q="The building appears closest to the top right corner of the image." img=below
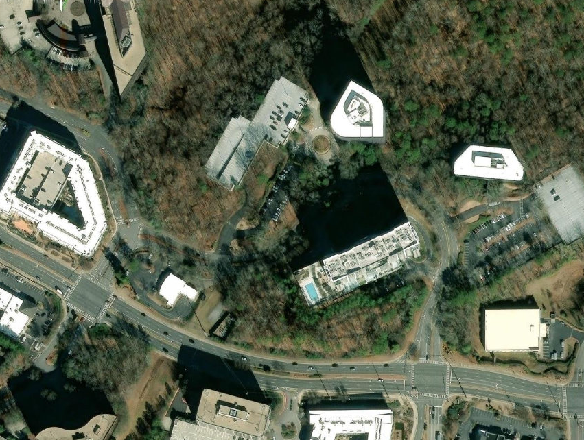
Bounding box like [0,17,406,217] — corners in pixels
[453,146,524,182]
